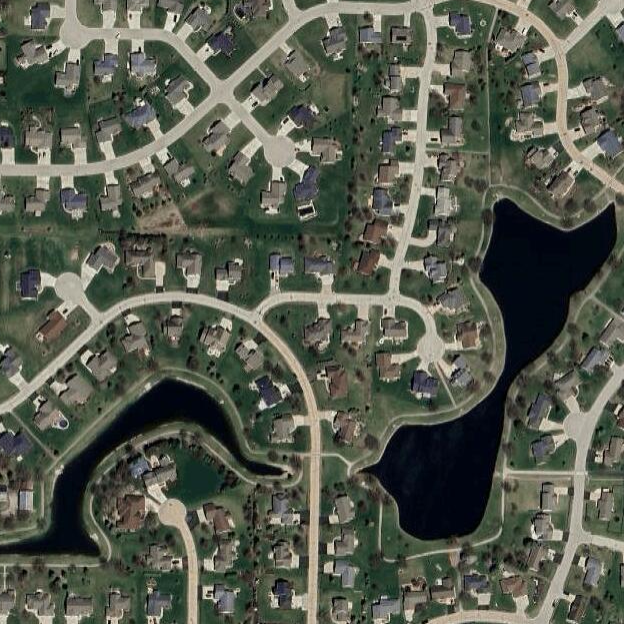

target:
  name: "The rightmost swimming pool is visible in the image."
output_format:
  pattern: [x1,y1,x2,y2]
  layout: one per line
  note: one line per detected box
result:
[295,201,317,221]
